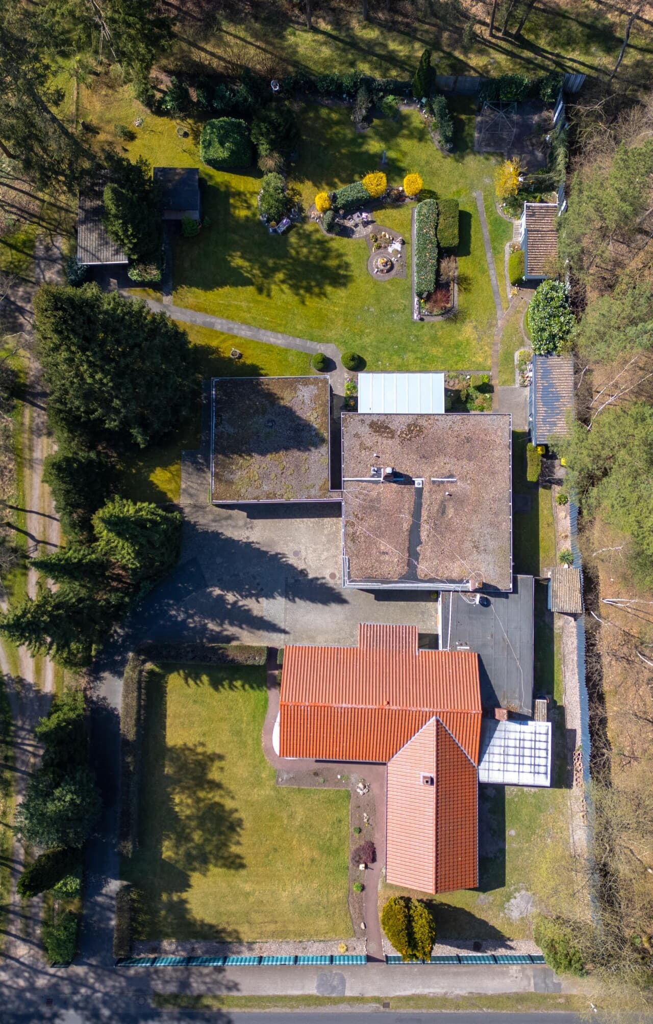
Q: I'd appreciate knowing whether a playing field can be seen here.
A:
No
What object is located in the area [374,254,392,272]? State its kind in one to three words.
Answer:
fountain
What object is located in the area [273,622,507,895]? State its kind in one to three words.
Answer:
house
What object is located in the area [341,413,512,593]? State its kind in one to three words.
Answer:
house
